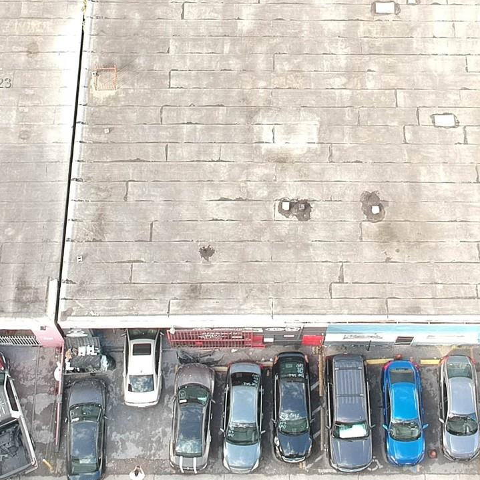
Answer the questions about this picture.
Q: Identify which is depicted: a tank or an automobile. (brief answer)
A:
automobile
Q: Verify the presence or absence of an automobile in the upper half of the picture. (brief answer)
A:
No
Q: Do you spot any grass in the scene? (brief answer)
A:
No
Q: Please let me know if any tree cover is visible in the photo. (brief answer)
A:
No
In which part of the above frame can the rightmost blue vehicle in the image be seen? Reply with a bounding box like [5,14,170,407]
[380,361,430,470]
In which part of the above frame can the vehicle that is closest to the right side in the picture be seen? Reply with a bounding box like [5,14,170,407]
[435,357,480,464]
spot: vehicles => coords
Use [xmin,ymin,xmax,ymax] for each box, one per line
[218,364,267,476]
[166,364,217,476]
[119,333,164,408]
[58,378,110,480]
[322,355,376,475]
[435,357,480,464]
[268,353,317,466]
[0,347,39,480]
[380,361,430,470]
